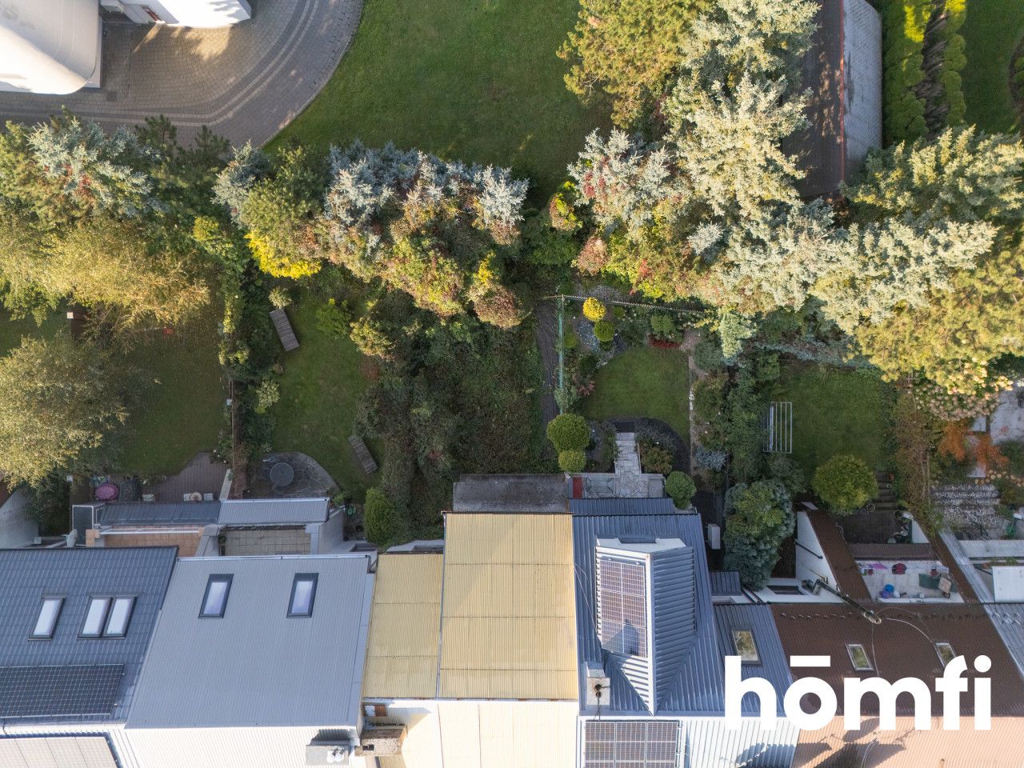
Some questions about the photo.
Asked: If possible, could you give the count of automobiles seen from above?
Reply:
0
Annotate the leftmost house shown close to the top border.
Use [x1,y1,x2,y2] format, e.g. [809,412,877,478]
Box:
[0,0,102,94]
